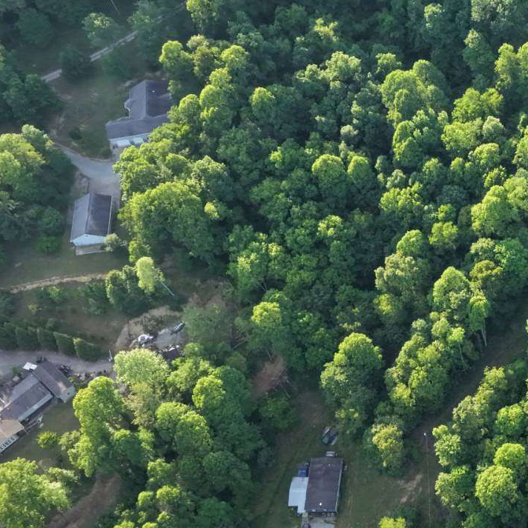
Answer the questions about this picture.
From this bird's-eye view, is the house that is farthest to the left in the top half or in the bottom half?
bottom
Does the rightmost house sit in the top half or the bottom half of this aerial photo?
bottom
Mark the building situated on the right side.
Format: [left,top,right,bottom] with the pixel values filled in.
[289,459,345,521]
